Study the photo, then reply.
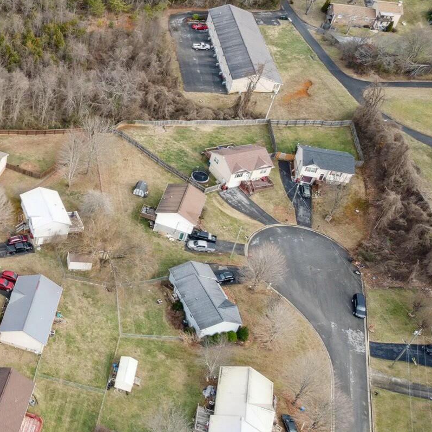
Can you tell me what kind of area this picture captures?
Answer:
residential area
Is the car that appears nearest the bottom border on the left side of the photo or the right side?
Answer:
right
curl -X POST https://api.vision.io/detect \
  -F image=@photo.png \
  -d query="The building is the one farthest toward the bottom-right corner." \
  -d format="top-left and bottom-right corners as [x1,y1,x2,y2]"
[193,365,283,432]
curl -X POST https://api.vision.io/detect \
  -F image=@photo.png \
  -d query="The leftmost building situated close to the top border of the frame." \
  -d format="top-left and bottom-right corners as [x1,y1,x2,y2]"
[204,4,283,96]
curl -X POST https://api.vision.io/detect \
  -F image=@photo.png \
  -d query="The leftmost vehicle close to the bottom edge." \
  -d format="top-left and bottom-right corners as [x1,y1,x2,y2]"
[280,412,300,432]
